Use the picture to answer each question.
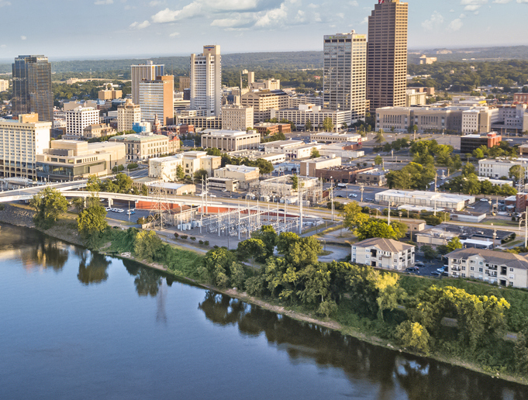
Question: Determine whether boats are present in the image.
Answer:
No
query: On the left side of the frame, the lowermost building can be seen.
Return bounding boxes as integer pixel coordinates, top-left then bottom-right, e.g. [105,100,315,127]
[167,207,198,226]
